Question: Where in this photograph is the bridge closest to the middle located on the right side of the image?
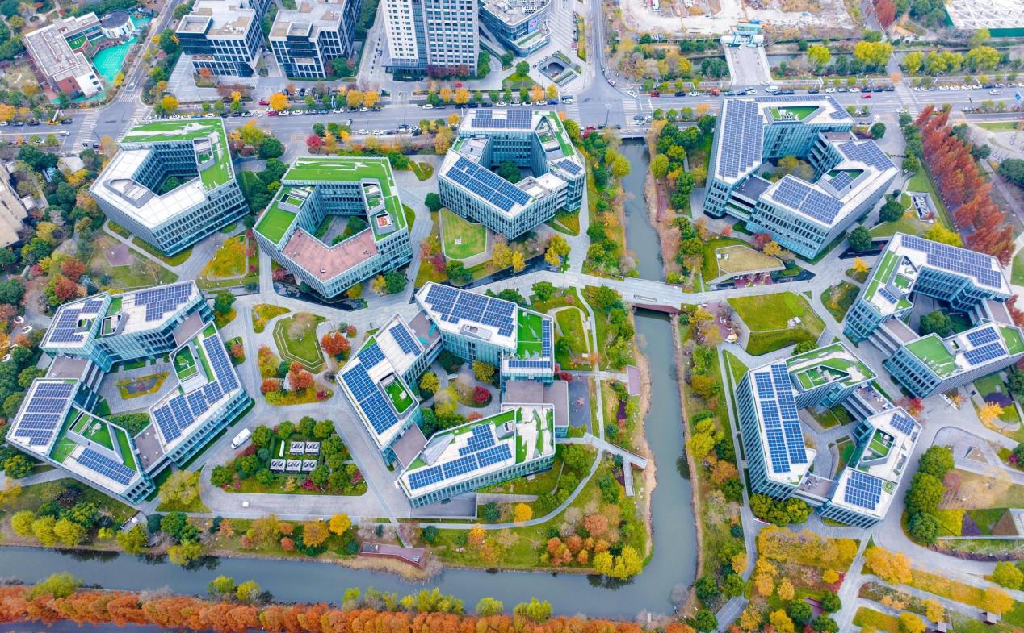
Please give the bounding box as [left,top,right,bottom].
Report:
[618,278,684,309]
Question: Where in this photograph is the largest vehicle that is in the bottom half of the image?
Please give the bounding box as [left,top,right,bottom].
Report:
[229,426,250,449]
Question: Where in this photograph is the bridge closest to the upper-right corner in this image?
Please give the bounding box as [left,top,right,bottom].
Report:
[726,45,776,86]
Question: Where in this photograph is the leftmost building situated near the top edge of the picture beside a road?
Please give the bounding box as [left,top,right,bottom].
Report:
[25,12,110,96]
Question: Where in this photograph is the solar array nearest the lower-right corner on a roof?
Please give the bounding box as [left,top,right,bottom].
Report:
[845,470,882,511]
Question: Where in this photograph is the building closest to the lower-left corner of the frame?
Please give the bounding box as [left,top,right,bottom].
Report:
[6,280,252,505]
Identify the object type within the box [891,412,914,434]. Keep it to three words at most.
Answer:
solar array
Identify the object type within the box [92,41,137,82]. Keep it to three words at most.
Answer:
playground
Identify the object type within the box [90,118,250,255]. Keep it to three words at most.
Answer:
building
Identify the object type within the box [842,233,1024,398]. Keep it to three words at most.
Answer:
building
